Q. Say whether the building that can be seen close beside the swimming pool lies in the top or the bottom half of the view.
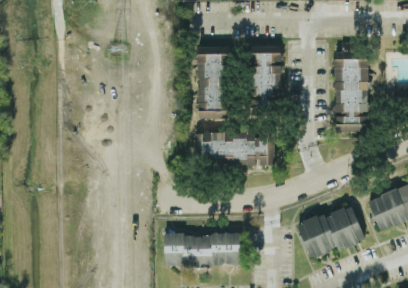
top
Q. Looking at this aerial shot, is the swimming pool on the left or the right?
right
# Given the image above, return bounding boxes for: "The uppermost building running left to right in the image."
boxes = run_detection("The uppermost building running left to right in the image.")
[196,132,276,168]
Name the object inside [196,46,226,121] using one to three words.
building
